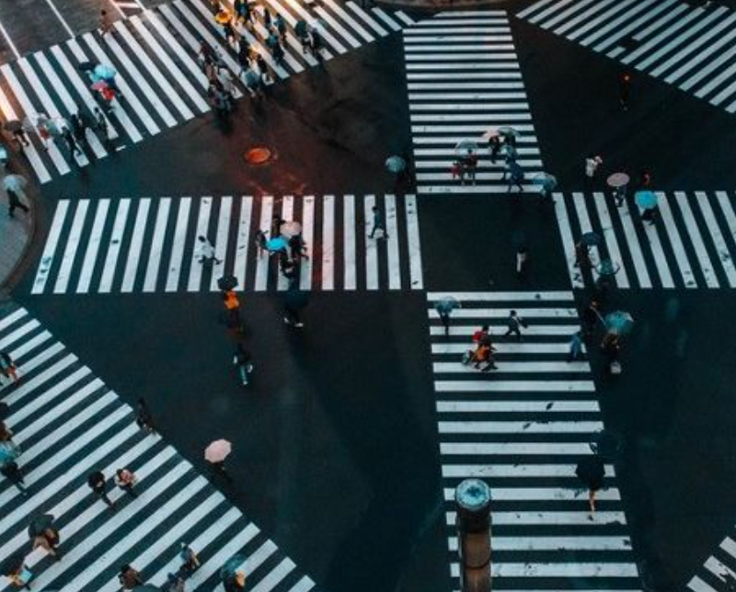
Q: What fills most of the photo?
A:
paved ground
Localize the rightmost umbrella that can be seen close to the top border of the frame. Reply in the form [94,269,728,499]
[293,21,312,34]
